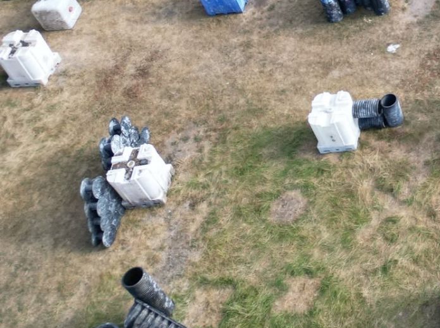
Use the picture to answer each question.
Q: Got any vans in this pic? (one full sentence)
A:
No, there appears to be no van in this shot.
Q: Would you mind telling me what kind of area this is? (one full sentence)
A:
What you see here is an industrial area.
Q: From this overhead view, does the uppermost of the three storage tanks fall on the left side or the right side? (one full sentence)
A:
The uppermost of the three storage tanks appears in the left half of the scene.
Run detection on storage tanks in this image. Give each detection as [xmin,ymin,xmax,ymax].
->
[312,97,359,154]
[114,150,173,208]
[0,37,57,86]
